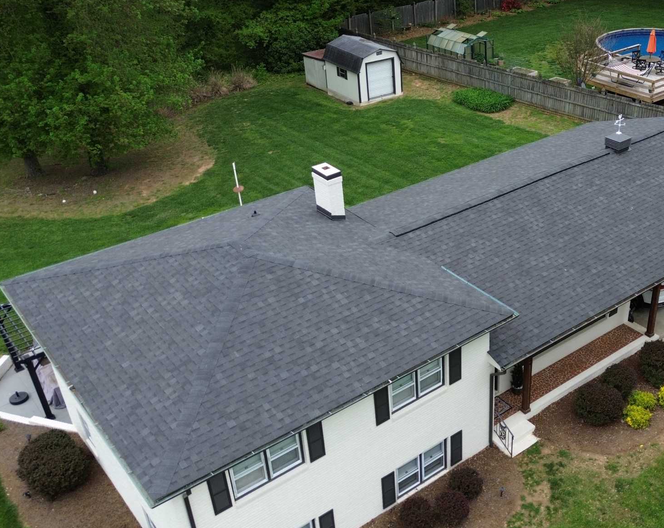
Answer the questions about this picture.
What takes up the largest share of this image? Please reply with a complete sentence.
The largest share of the image is taken up by buildings.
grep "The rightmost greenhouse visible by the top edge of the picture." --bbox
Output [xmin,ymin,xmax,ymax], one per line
[431,15,495,62]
